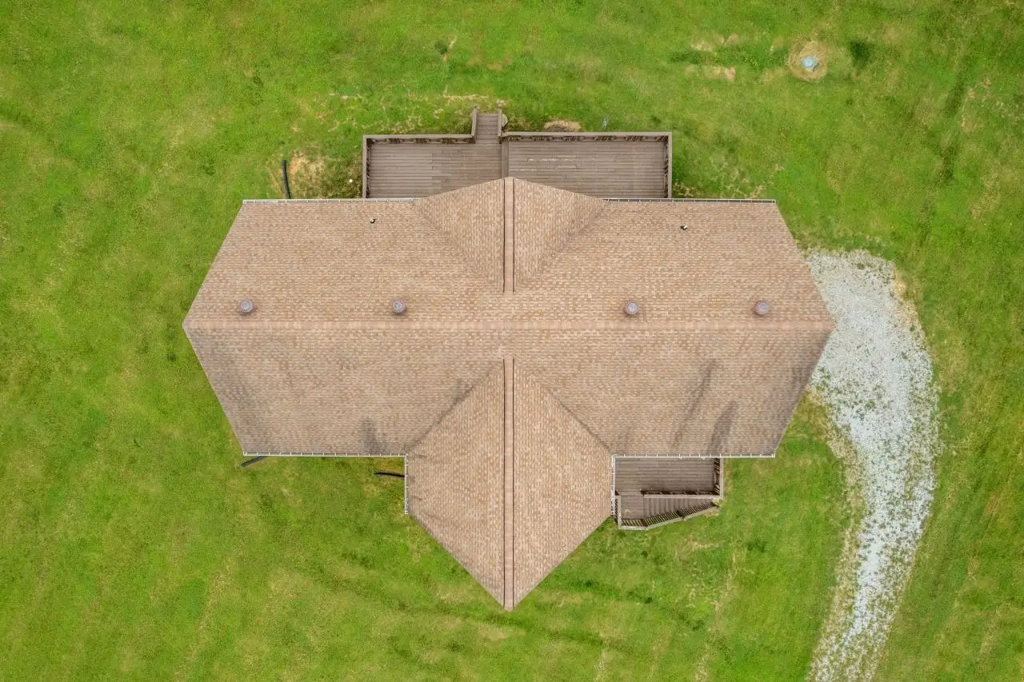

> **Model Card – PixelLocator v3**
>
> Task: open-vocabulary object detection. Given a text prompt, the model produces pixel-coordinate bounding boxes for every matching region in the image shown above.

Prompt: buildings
[182,176,835,612]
